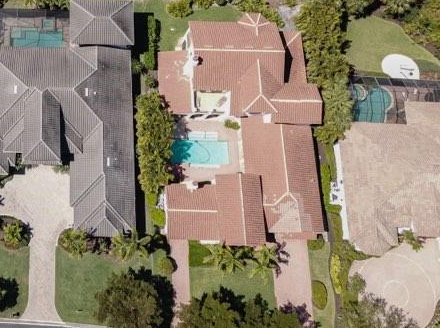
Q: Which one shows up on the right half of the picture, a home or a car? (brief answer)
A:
home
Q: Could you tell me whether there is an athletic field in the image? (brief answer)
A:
No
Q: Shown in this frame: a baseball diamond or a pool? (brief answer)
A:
pool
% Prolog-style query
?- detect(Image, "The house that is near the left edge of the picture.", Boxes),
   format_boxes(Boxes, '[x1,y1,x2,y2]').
[0,0,135,237]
